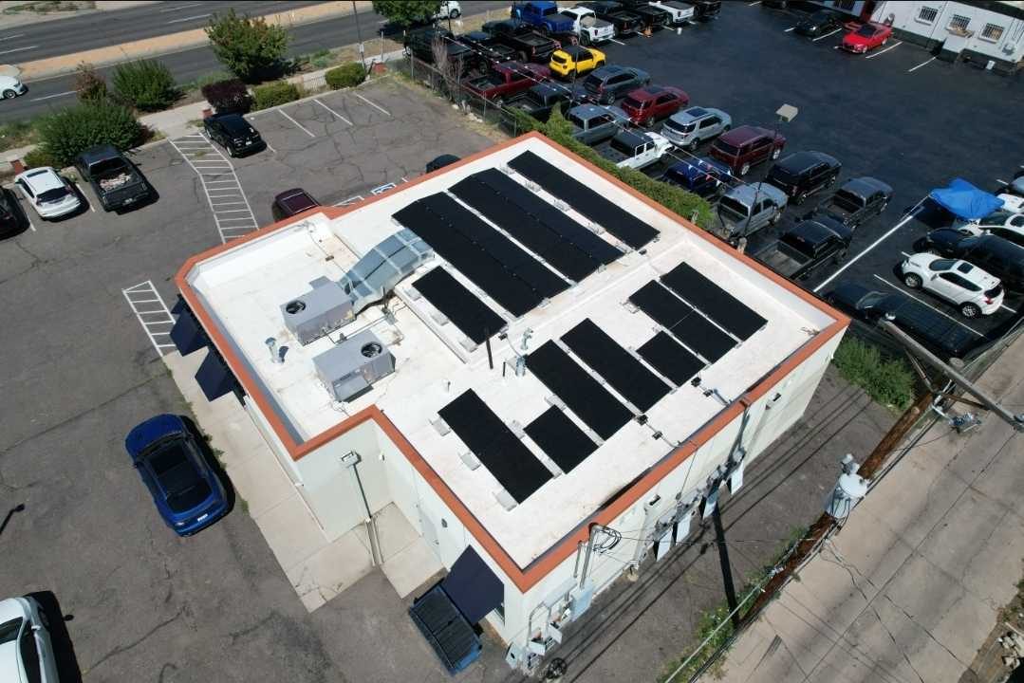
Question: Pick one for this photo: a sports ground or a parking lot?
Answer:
parking lot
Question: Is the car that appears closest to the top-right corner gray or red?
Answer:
red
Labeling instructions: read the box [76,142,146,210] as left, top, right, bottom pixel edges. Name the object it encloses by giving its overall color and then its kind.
black truck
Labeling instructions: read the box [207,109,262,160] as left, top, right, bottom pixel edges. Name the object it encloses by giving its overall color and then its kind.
black car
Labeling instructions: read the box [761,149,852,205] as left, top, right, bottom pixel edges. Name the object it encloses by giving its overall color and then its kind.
black car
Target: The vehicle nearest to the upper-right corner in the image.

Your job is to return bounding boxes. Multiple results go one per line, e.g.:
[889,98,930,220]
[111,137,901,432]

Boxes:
[834,26,891,57]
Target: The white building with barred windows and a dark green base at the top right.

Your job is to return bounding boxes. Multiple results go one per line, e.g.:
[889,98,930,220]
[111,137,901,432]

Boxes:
[849,0,1024,79]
